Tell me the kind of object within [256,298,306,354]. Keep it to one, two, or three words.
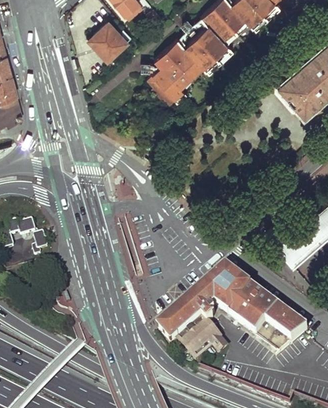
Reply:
building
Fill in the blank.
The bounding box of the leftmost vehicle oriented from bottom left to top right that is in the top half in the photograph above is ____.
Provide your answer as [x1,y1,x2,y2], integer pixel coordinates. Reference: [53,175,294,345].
[20,135,33,150]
